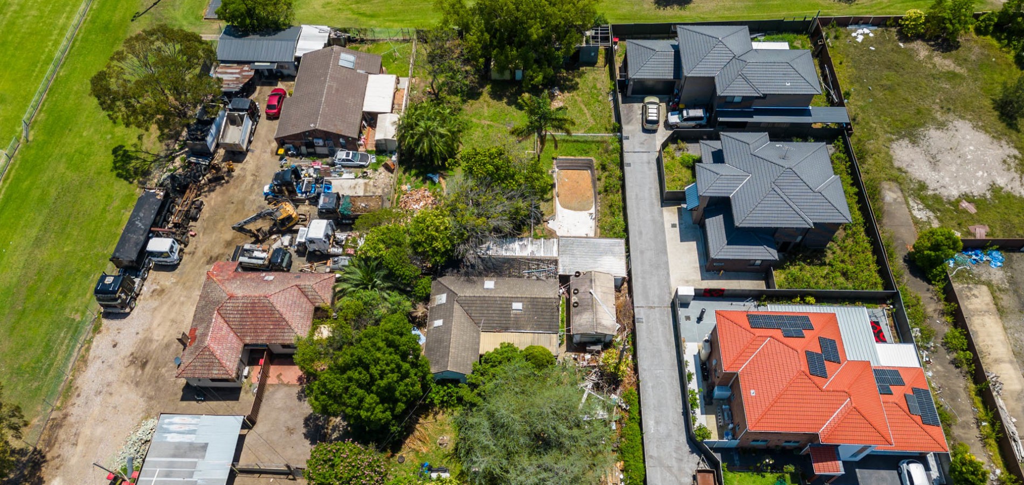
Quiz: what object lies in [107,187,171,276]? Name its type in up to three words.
trailer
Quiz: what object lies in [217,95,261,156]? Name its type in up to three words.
truck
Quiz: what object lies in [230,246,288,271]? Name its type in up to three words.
truck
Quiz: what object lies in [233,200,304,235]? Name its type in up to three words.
work vehicle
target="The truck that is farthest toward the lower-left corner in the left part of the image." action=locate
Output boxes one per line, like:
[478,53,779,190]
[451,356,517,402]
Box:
[90,254,152,316]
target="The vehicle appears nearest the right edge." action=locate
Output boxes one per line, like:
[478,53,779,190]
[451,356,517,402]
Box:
[901,453,933,485]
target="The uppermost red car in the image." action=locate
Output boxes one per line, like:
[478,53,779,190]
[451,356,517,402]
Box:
[264,86,287,117]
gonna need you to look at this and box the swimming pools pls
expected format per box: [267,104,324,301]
[549,158,602,246]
